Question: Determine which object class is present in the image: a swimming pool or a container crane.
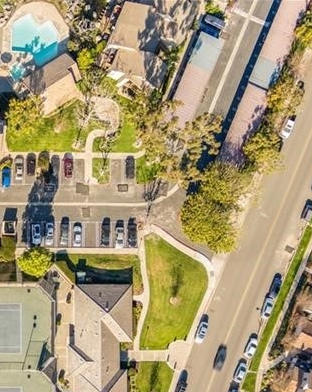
swimming pool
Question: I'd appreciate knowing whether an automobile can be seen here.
Yes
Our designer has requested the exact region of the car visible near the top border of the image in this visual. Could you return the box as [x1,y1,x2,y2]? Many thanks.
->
[203,12,229,28]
